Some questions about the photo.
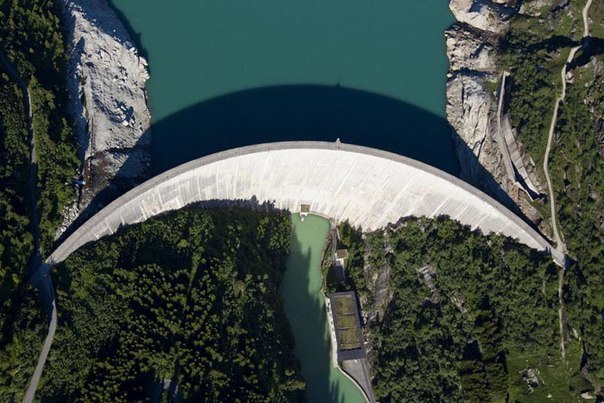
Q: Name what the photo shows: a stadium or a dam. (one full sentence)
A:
Visible in the photo is a dam.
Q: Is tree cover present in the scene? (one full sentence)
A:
Yes, there's tree cover in this view.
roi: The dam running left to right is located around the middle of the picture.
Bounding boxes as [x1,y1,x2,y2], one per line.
[40,139,552,271]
